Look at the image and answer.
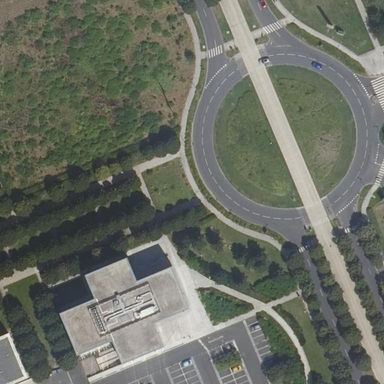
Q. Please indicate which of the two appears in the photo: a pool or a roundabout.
roundabout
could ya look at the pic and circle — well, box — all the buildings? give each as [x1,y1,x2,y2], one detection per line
[57,258,188,380]
[0,334,28,384]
